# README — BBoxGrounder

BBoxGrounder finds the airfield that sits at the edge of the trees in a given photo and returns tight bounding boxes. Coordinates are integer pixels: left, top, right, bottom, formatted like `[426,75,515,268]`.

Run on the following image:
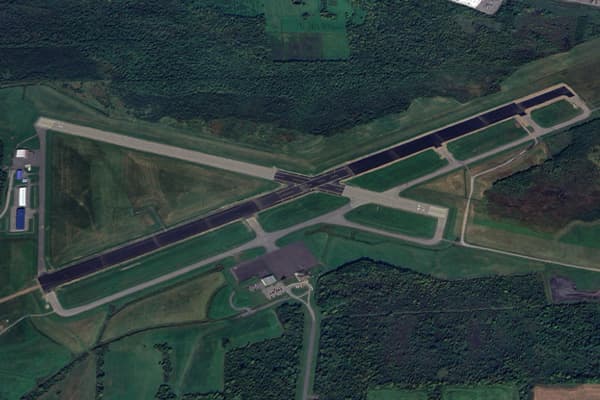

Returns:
[10,84,591,317]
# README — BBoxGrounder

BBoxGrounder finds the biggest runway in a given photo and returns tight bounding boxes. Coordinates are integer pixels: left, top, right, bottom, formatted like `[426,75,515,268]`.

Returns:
[37,84,591,294]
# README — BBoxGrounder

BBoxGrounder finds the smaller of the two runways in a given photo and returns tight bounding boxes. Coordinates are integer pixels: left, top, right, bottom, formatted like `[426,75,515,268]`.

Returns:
[35,117,448,218]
